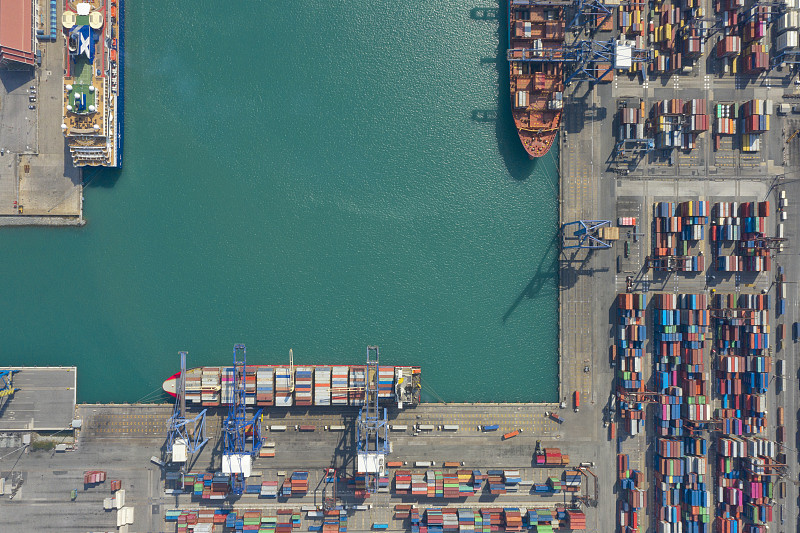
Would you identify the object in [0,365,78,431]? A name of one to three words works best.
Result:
pier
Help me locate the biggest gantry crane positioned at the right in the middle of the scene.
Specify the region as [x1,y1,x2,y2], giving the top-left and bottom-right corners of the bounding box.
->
[563,220,619,252]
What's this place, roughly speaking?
port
